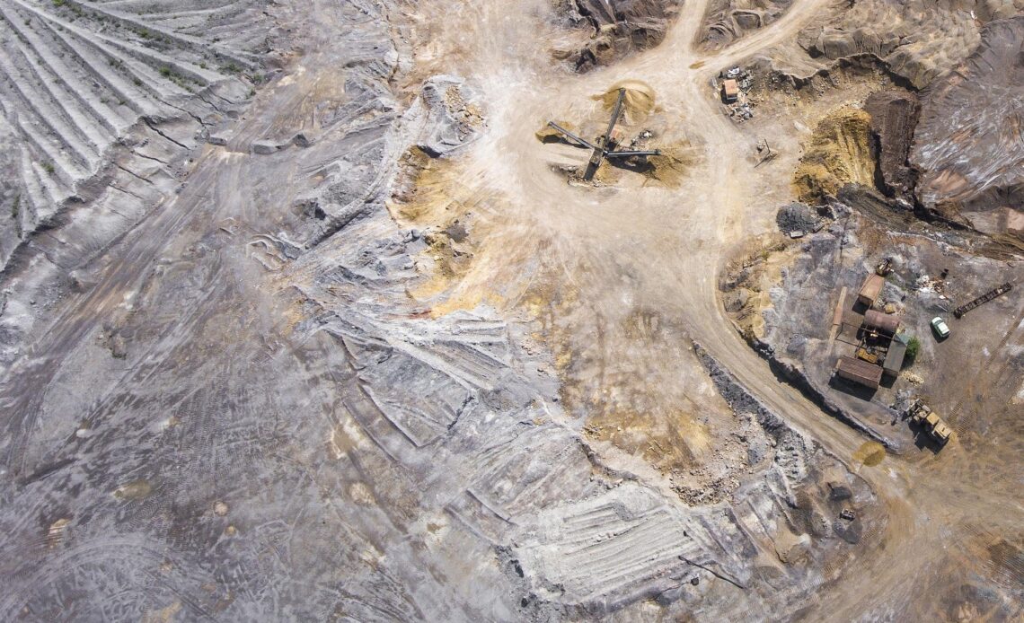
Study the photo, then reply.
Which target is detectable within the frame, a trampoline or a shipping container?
shipping container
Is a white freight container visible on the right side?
No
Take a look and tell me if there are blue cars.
No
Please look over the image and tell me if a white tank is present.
No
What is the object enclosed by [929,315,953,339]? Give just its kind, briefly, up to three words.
car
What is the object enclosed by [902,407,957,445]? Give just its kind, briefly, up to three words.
work vehicle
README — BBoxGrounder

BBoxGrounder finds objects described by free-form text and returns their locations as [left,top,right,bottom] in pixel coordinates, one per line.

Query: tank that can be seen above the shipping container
[862,309,901,339]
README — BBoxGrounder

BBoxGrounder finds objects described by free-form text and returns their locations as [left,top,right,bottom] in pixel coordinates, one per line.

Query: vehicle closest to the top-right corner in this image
[876,259,892,276]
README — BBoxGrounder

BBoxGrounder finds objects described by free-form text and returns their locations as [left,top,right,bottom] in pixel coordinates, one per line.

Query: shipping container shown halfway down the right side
[835,355,885,392]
